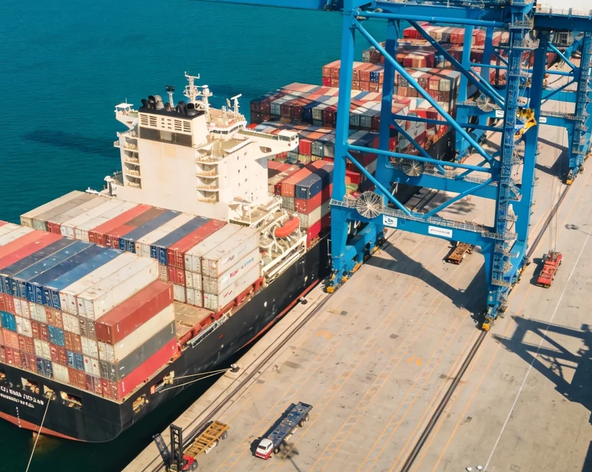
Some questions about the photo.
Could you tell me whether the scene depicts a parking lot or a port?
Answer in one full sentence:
This looks like a port.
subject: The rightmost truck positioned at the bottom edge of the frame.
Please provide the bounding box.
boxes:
[249,402,313,464]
